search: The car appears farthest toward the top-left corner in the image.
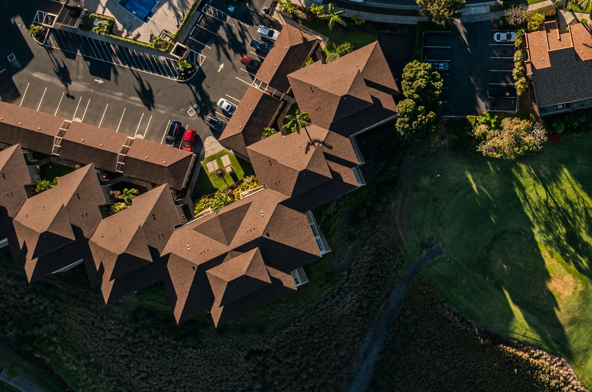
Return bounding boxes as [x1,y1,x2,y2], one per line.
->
[166,121,183,146]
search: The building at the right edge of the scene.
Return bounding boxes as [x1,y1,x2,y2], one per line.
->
[526,17,592,113]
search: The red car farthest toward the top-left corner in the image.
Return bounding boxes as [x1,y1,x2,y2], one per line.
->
[183,129,197,151]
